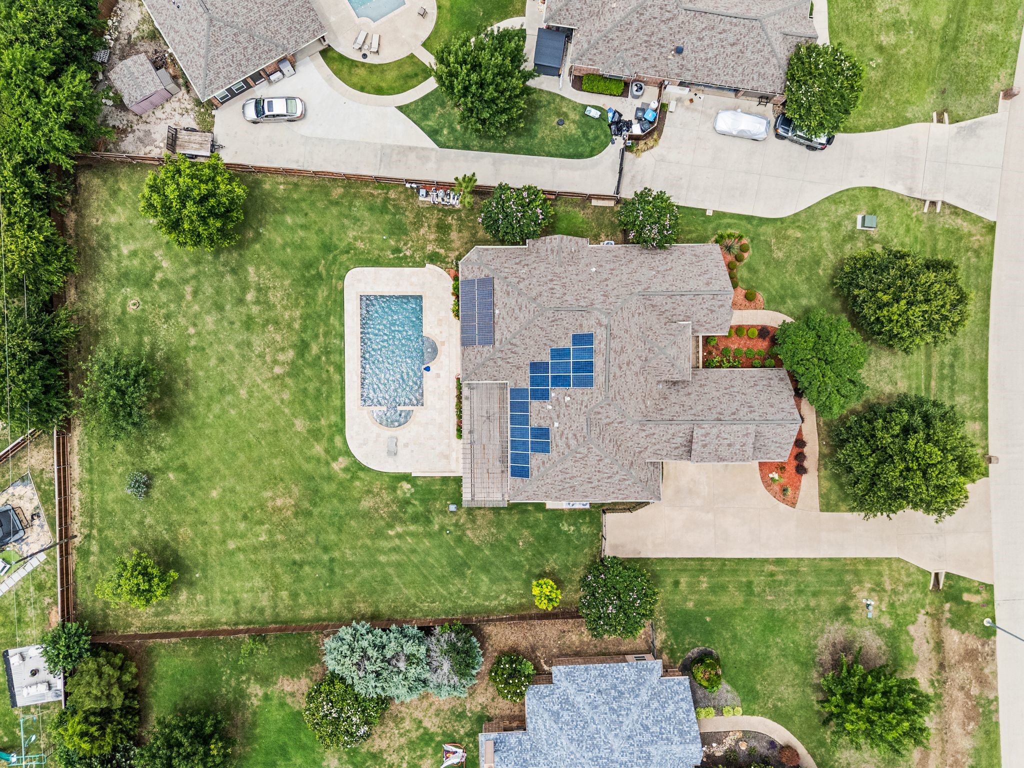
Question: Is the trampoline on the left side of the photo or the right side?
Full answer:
You can find the trampoline on the left side of the picture.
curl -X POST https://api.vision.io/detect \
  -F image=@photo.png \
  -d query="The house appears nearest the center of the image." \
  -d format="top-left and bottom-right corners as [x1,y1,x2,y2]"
[459,234,802,502]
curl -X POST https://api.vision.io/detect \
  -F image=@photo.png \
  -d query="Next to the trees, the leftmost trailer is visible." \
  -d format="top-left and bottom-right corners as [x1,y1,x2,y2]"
[164,121,226,158]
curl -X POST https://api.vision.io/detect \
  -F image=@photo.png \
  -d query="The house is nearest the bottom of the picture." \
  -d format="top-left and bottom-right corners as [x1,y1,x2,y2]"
[478,647,702,768]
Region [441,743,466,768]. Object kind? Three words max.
tent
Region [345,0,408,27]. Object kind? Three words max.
swimming pool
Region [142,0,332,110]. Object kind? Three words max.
house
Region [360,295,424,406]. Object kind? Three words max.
swimming pool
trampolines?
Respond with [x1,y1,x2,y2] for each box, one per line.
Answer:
[0,505,28,545]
